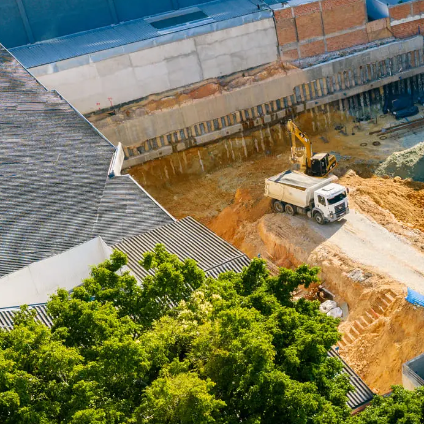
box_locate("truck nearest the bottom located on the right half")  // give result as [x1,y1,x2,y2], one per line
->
[257,167,349,224]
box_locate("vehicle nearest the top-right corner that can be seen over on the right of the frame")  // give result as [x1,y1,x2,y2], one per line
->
[283,120,347,176]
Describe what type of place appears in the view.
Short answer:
industrial area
